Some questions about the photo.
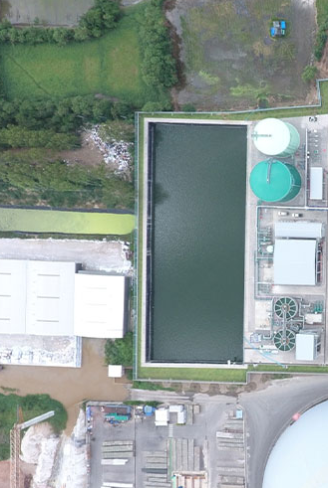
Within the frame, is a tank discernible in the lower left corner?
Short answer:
No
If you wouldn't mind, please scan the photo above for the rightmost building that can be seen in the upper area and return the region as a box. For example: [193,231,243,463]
[309,166,325,201]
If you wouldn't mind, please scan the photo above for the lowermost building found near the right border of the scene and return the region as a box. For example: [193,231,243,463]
[294,333,319,362]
